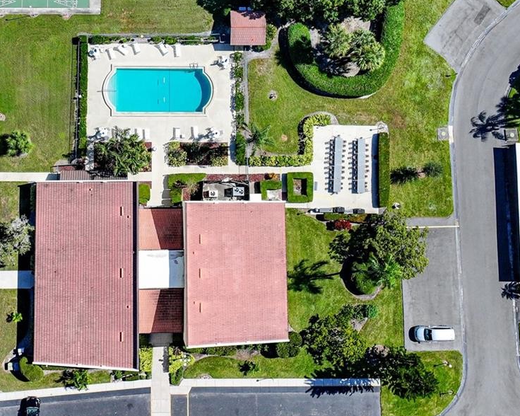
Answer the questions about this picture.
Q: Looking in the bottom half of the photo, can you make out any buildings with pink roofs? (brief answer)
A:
Yes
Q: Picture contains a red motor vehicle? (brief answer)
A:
No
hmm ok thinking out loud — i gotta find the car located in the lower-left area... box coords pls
[21,393,38,416]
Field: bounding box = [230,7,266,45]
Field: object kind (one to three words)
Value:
building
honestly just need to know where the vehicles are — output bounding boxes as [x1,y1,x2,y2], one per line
[21,393,38,416]
[415,327,455,345]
